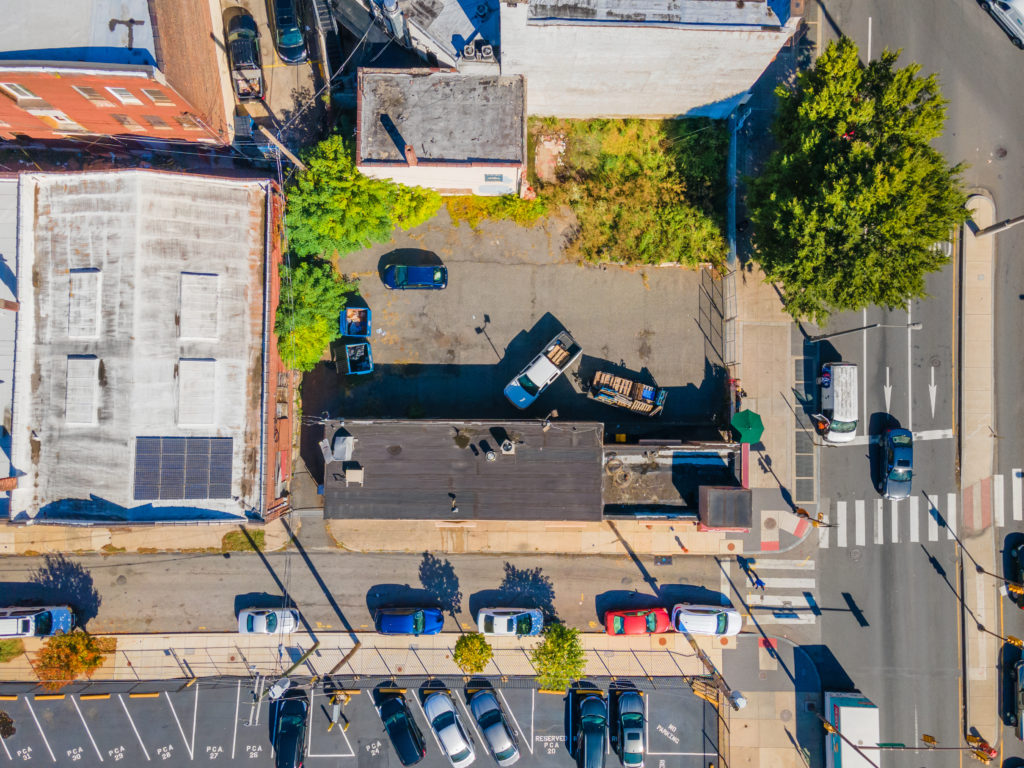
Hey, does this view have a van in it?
Yes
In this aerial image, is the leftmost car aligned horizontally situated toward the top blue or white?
blue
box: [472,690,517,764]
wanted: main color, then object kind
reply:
blue car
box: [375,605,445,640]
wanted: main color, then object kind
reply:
blue car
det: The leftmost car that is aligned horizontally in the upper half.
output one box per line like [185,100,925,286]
[384,261,448,292]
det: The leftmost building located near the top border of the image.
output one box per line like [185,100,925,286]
[0,0,229,143]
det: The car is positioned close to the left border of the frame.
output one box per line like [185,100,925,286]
[0,605,80,637]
